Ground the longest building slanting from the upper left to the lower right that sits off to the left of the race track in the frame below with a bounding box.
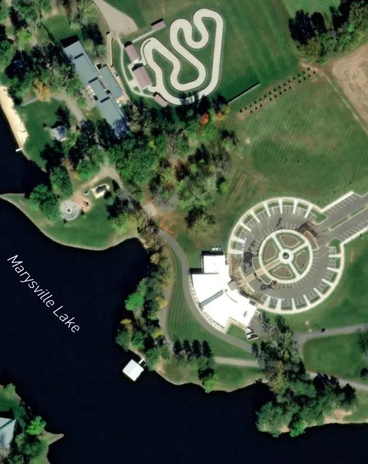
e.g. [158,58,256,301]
[64,41,130,139]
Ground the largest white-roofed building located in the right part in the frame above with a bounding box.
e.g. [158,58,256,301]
[192,255,257,329]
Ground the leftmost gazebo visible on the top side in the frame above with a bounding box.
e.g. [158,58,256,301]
[53,126,65,142]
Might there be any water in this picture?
Yes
